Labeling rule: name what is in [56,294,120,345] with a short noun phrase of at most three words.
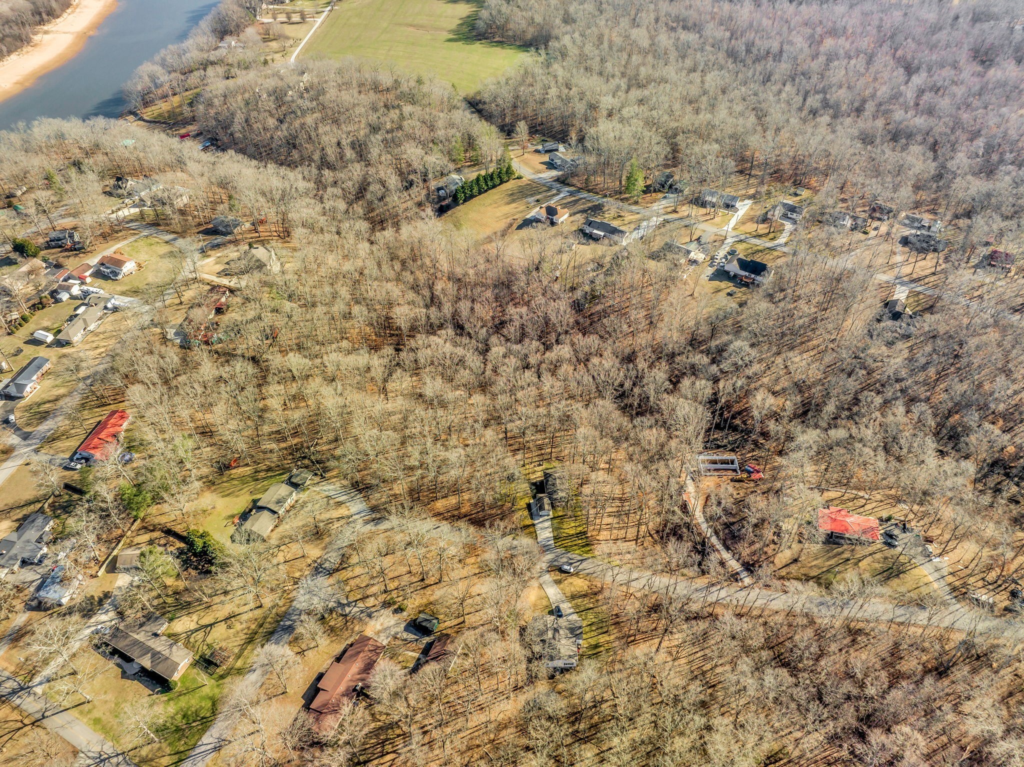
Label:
house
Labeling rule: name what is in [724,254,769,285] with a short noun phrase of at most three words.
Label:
house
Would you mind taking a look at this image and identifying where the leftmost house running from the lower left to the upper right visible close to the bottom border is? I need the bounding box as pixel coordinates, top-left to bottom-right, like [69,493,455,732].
[299,635,385,745]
